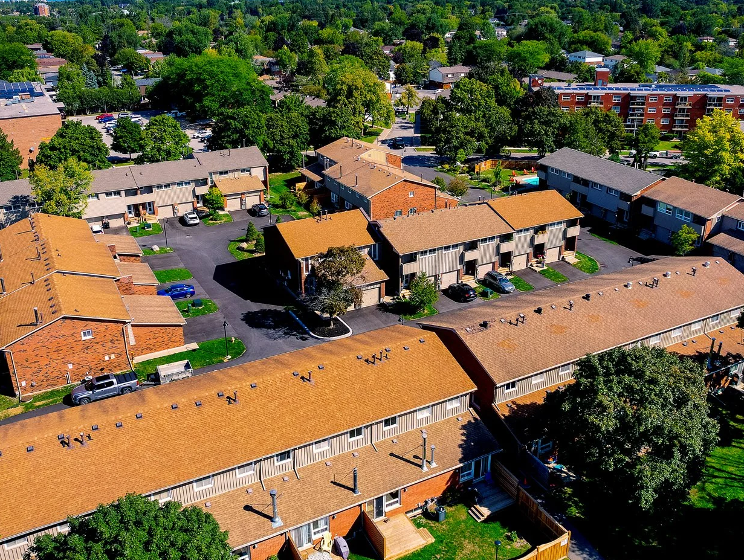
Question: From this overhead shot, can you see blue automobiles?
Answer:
Yes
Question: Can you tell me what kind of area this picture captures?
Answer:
residential area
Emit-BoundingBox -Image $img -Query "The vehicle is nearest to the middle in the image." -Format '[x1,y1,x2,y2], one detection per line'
[441,285,476,306]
